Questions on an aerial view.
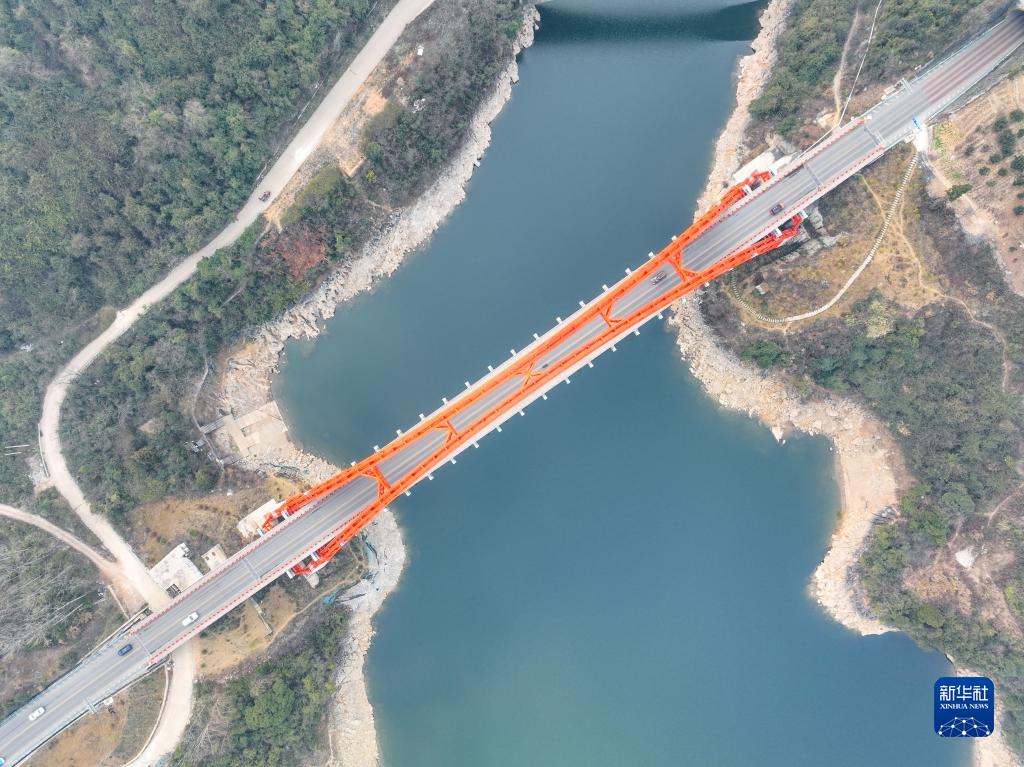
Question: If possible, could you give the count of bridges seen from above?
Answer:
1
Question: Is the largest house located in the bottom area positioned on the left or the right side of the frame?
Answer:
left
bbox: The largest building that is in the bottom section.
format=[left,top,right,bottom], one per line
[148,541,210,601]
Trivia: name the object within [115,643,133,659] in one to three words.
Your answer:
car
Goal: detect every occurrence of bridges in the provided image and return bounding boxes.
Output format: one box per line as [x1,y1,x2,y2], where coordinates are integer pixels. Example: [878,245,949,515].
[111,104,887,667]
